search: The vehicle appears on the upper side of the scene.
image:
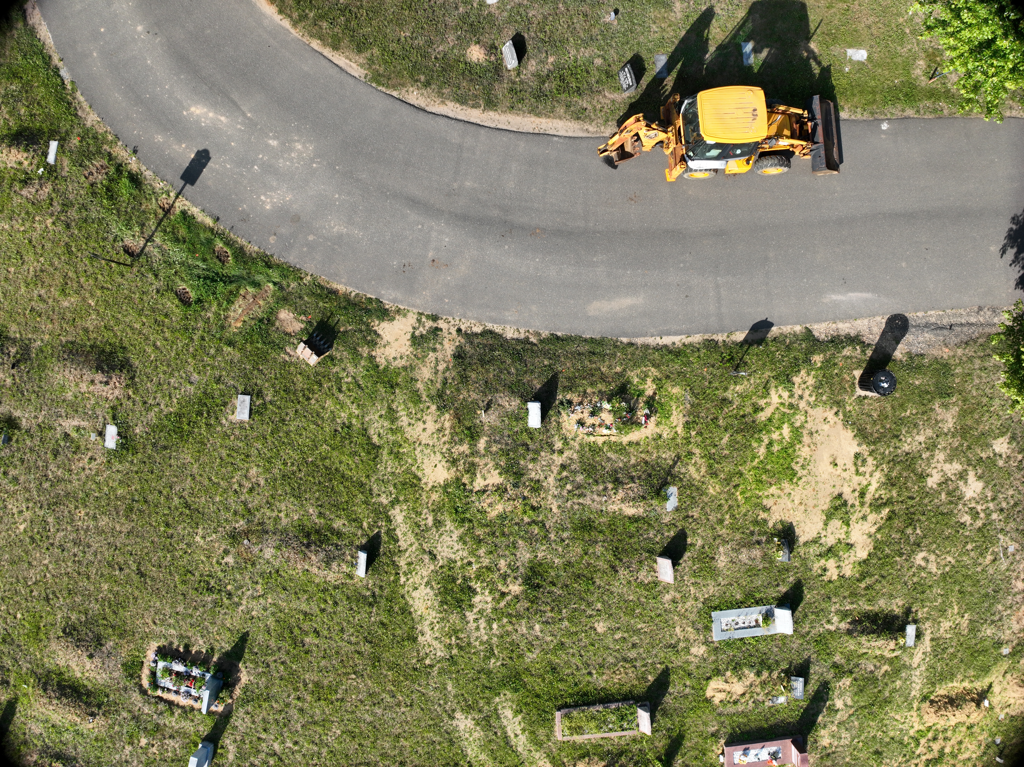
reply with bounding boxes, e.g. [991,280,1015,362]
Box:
[596,85,840,189]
